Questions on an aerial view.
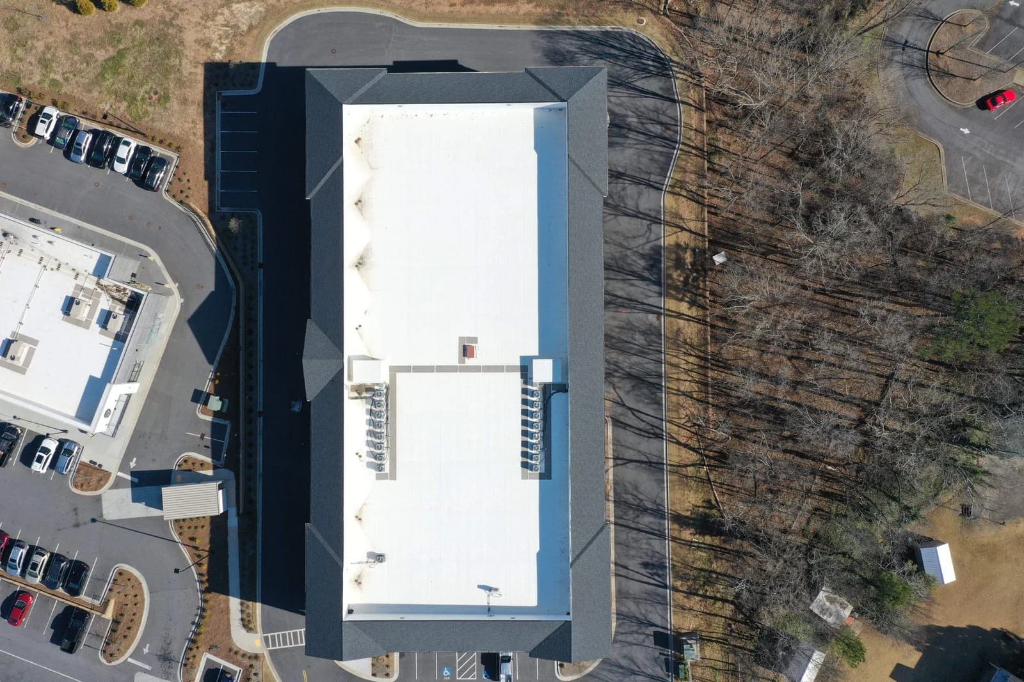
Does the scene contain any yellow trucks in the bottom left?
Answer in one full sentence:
No, no yellow truck is visible in the bottom left.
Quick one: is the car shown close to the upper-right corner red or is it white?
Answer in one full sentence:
The car shown close to the upper-right corner looks red in the image.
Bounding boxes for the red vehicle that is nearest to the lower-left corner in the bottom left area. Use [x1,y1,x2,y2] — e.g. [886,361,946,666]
[9,591,34,627]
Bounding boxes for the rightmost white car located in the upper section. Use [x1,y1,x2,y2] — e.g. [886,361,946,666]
[113,137,137,173]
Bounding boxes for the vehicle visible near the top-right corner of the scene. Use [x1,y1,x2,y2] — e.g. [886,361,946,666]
[981,88,1015,112]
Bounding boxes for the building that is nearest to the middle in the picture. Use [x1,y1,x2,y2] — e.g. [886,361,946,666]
[301,67,609,661]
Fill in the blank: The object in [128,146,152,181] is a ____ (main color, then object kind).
black car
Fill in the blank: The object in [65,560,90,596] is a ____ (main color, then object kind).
black car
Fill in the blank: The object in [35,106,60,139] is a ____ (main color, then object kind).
white car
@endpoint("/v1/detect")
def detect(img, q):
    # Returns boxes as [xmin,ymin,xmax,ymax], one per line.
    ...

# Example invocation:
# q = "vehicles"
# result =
[57,439,81,474]
[55,116,80,151]
[981,88,1015,112]
[70,128,94,164]
[0,425,23,469]
[65,560,90,596]
[0,533,14,568]
[143,156,169,192]
[0,92,19,128]
[498,653,514,682]
[27,550,51,583]
[92,131,117,167]
[113,137,137,173]
[6,541,30,574]
[128,146,152,181]
[35,106,60,139]
[45,553,69,589]
[60,610,91,654]
[9,591,34,627]
[32,439,58,473]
